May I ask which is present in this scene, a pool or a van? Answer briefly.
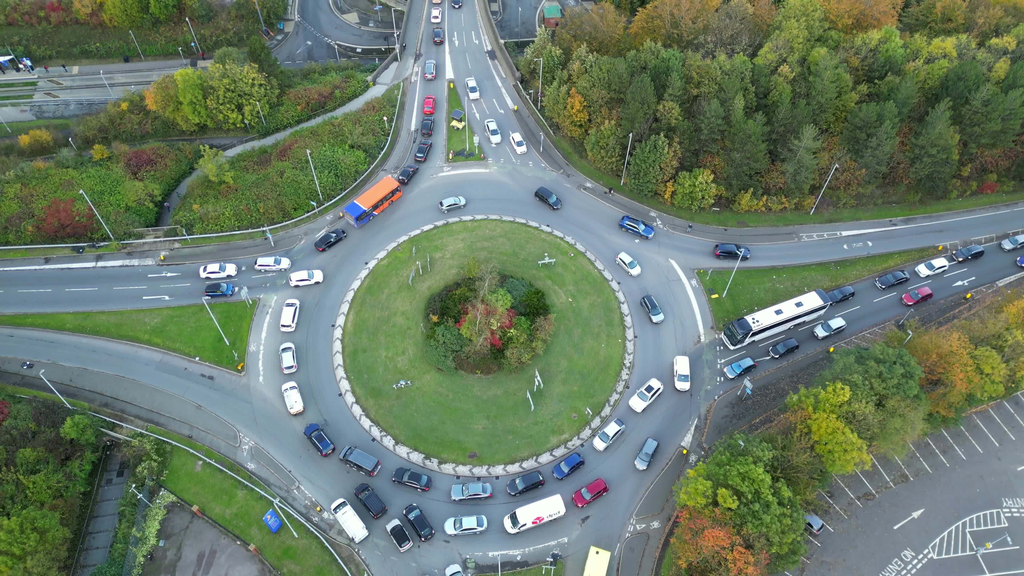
van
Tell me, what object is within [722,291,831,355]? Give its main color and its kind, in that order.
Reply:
white bus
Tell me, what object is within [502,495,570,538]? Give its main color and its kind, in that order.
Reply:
white van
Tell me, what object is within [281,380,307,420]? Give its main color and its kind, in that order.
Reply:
white vehicle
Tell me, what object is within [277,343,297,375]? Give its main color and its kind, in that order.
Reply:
white car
